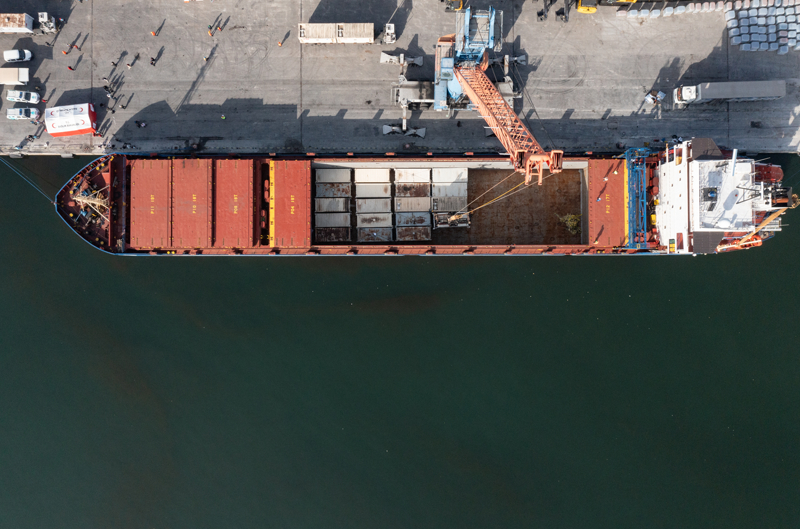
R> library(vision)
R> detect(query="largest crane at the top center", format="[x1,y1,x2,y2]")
[383,2,563,188]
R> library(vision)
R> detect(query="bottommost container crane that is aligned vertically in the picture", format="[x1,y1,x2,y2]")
[614,144,659,252]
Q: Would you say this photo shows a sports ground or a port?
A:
port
